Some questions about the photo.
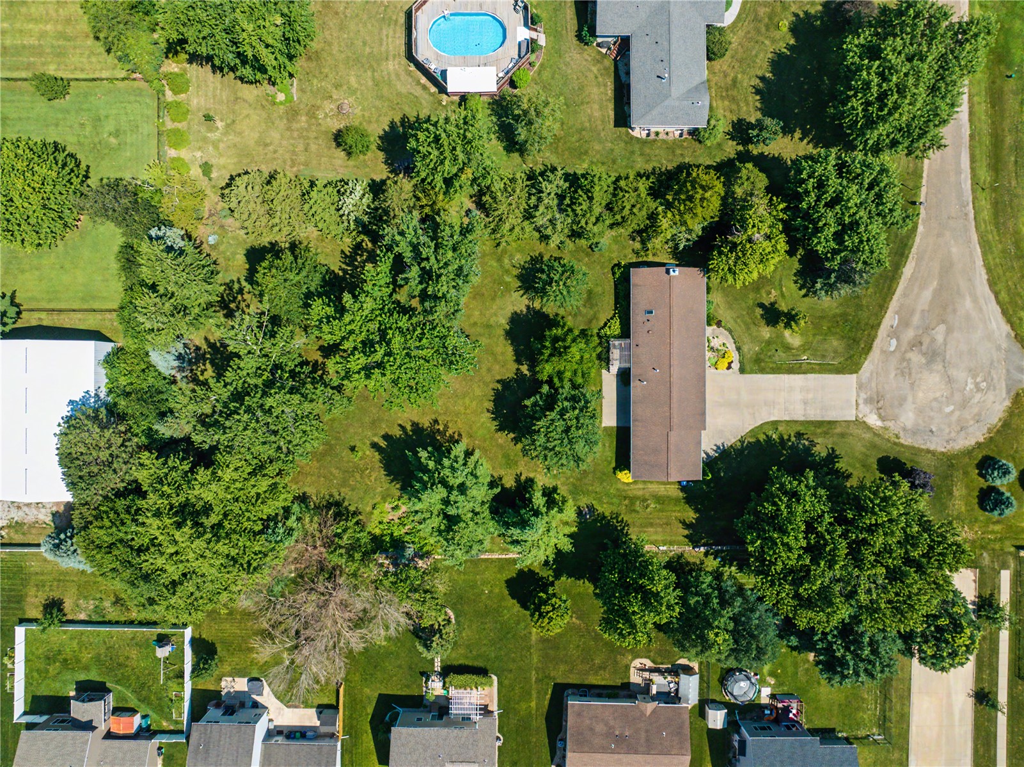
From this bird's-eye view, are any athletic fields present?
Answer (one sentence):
No, no athletic field is visible in the view.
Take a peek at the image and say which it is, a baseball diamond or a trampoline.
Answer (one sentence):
The image shows a trampoline.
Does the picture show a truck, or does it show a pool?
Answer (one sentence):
Visible in the photo is a pool.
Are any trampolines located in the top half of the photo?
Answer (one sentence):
No, there's no trampoline to be seen in the top half of the photo.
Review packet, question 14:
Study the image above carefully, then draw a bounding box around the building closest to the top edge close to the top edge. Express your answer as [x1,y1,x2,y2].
[596,0,728,132]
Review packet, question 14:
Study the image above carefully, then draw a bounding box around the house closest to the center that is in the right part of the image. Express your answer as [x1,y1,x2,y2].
[629,265,707,482]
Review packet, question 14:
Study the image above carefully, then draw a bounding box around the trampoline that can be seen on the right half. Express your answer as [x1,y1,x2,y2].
[721,667,761,708]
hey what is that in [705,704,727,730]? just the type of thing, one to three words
shed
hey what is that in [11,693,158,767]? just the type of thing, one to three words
house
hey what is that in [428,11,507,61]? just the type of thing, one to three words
swimming pool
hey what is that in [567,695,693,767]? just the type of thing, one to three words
house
